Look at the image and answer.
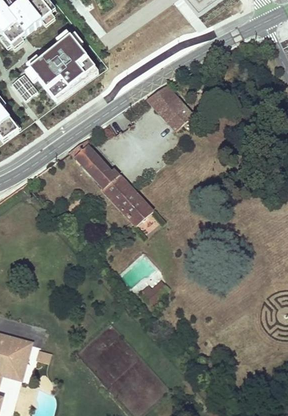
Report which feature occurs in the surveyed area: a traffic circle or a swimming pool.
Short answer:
swimming pool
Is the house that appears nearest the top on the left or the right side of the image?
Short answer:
left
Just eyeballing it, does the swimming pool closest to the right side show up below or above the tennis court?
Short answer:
above it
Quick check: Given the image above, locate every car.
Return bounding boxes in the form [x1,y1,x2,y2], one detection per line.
[160,128,170,136]
[113,122,120,132]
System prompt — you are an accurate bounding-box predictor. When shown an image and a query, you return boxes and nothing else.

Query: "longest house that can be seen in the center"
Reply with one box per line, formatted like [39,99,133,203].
[70,142,160,235]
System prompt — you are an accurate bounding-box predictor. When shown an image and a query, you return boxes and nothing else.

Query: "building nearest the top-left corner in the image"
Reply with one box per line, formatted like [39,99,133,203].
[0,0,57,52]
